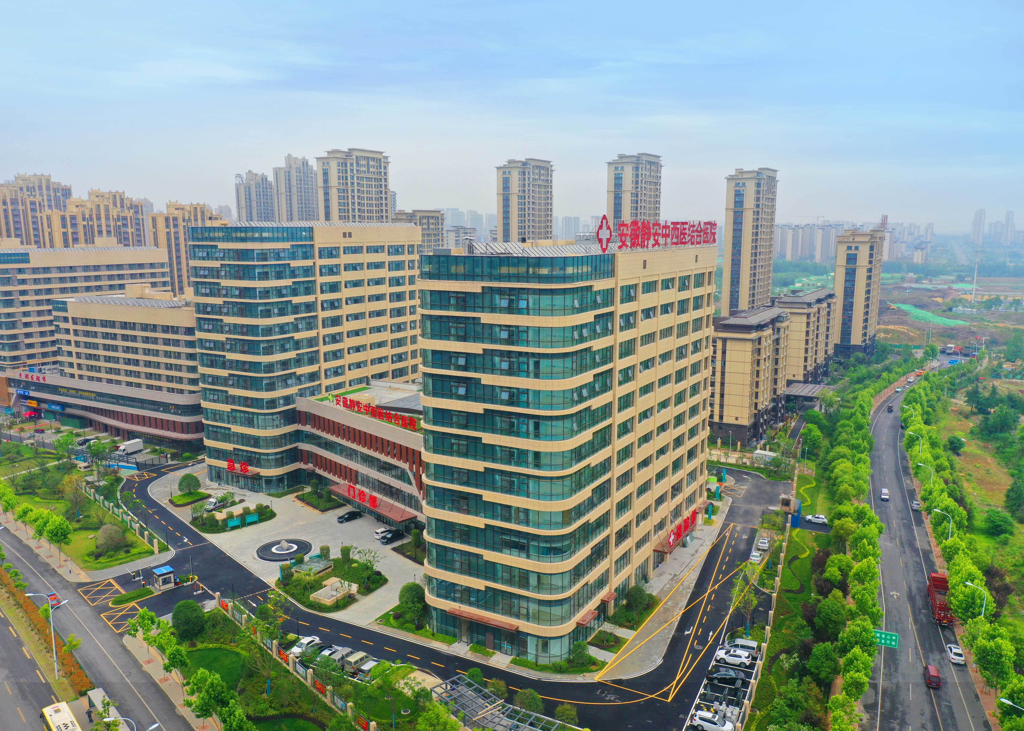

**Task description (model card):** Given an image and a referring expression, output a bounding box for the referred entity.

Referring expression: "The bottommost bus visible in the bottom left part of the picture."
[39,705,83,731]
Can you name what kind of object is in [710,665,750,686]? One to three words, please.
car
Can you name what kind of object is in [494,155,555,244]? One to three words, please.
building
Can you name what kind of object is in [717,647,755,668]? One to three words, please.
car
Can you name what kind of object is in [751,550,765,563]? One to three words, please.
vehicle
